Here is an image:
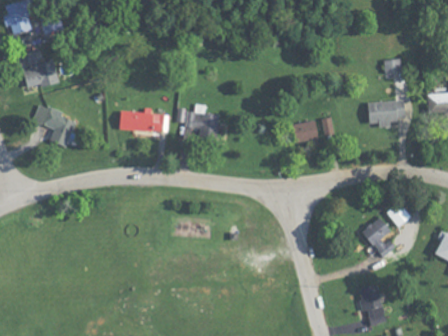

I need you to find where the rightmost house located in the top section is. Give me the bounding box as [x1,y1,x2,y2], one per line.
[428,88,448,118]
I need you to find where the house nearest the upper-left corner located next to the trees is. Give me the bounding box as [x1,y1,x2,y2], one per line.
[3,0,32,35]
